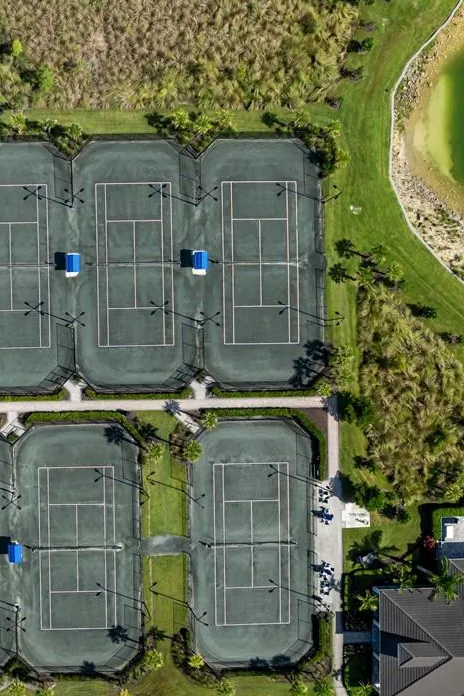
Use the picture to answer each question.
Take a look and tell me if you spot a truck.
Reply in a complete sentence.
No, the scene contains no truck.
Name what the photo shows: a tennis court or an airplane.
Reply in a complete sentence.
I can see a tennis court in this picture.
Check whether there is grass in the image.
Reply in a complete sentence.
Yes, grass can be seen from above here.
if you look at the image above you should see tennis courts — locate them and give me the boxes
[13,423,144,675]
[188,418,314,667]
[196,138,327,389]
[0,142,75,393]
[72,139,199,392]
